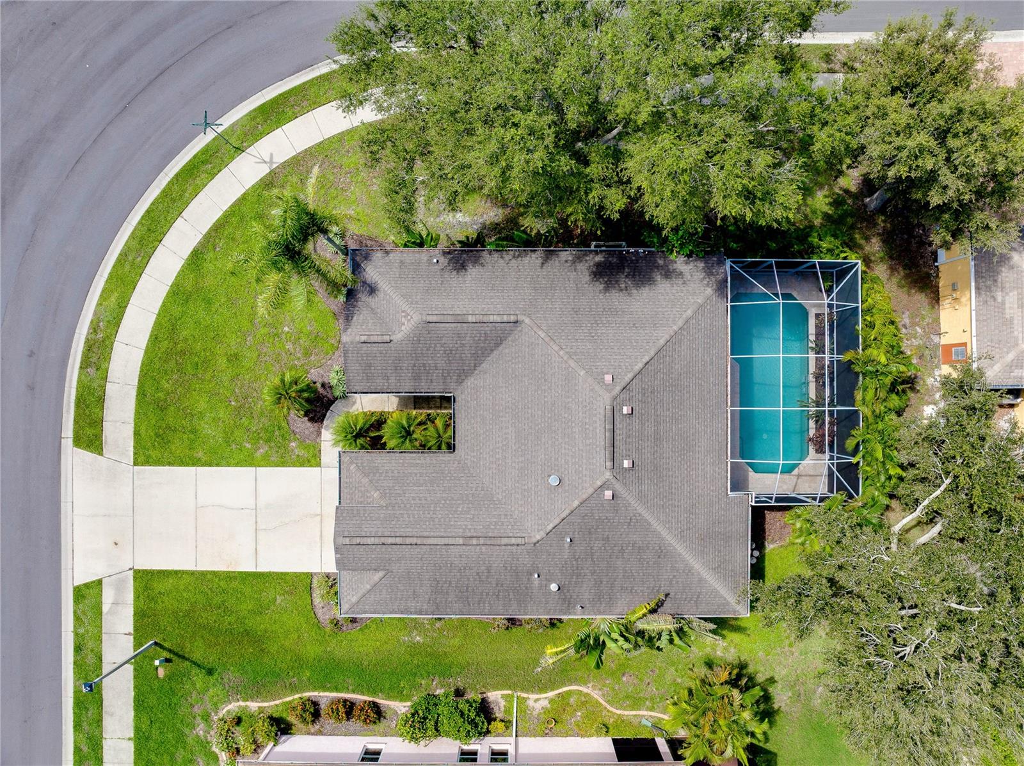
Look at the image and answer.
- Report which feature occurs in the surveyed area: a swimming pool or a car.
swimming pool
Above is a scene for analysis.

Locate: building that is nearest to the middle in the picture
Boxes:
[333,248,752,616]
